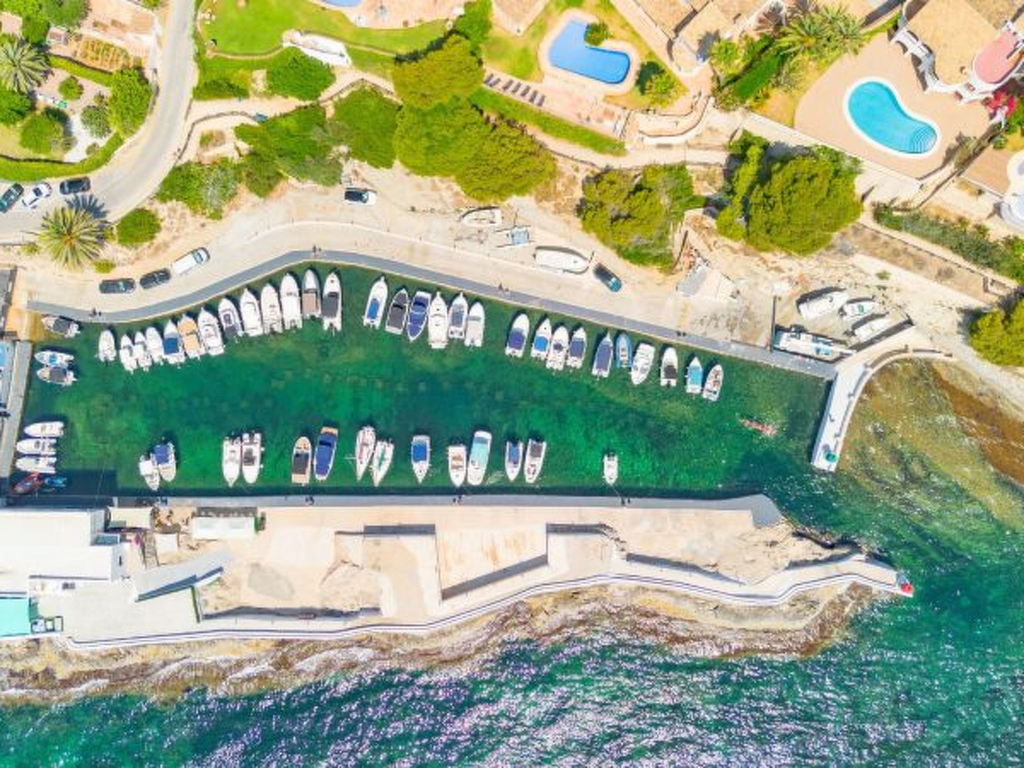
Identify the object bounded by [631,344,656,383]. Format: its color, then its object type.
white boat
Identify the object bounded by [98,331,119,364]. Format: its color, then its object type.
white boat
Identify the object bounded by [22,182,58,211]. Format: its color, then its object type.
white car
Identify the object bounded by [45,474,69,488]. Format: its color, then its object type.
blue boat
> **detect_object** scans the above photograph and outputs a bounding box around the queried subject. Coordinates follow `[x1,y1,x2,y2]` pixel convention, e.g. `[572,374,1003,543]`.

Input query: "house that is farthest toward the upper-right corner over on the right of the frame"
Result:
[883,0,1024,105]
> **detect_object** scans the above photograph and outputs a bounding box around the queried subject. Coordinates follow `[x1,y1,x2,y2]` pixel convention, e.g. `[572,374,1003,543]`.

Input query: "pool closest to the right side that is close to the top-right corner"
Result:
[844,78,941,159]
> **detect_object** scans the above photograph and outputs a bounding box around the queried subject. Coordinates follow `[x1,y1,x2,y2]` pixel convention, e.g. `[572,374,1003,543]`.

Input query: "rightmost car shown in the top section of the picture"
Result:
[590,264,623,293]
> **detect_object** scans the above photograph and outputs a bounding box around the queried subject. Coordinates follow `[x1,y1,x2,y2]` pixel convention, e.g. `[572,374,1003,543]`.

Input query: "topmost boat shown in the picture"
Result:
[463,210,500,229]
